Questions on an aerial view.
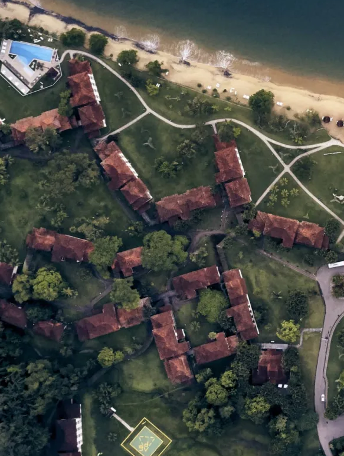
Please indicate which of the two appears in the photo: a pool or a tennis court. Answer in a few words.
pool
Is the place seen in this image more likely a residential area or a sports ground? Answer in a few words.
residential area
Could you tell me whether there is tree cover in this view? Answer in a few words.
Yes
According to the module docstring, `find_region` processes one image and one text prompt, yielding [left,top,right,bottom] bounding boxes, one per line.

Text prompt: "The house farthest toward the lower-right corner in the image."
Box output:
[252,342,290,385]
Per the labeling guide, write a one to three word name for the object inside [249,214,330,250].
house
